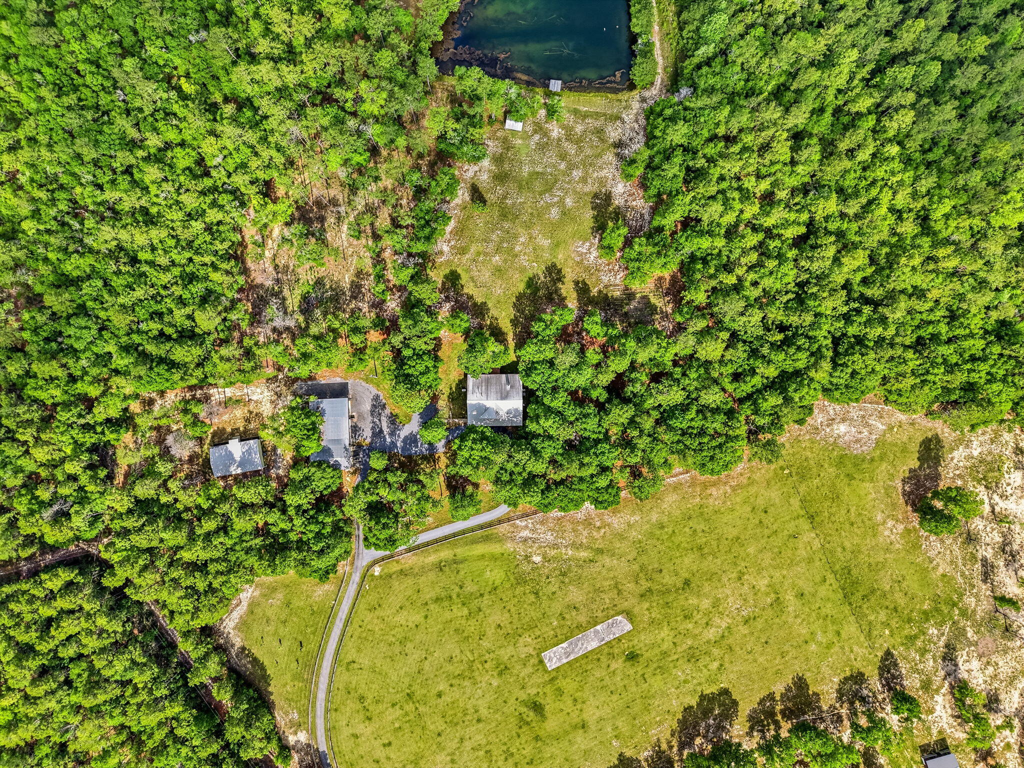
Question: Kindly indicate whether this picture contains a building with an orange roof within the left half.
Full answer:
No, no building with an orange roof can be made out within the left half.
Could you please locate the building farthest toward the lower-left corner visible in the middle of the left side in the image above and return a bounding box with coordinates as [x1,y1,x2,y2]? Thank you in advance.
[210,435,267,477]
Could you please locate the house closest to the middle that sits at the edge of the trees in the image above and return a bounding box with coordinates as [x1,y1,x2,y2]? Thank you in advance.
[467,374,523,426]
